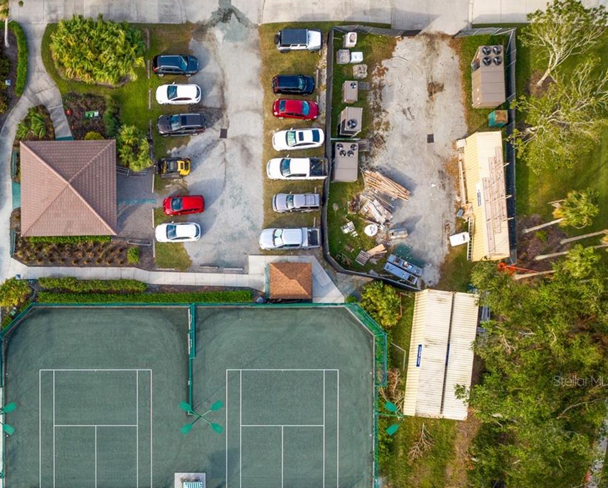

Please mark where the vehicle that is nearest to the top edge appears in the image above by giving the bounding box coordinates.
[272,27,321,53]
